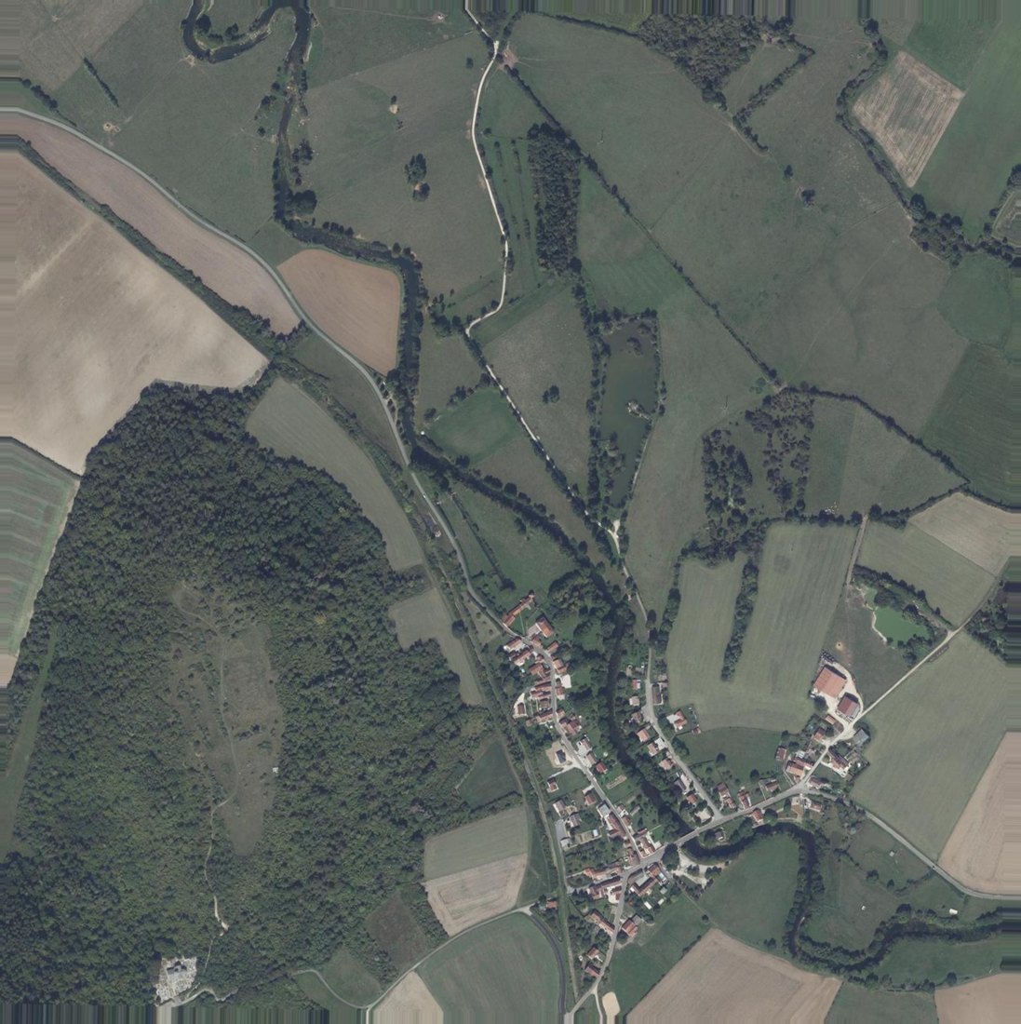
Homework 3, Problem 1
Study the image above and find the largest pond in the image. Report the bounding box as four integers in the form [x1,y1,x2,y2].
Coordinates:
[600,319,657,506]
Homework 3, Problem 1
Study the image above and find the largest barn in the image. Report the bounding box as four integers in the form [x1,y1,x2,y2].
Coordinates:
[814,667,849,700]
